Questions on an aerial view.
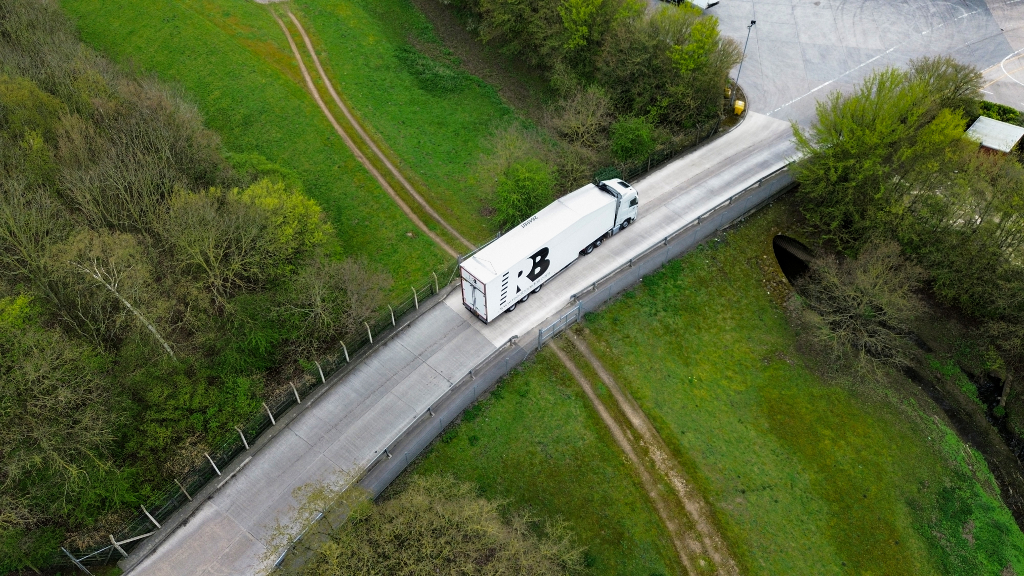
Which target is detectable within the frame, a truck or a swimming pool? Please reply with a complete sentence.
The one in the frame is a truck.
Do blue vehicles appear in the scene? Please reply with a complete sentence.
No, no blue vehicle can be seen from above.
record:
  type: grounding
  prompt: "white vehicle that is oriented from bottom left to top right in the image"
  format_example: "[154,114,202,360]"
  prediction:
[460,179,640,325]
